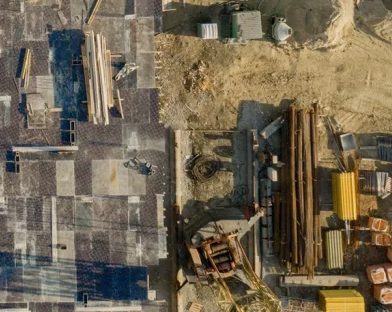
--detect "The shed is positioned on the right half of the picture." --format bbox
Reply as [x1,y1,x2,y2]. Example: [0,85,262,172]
[228,10,261,39]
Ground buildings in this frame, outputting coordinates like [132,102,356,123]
[228,10,261,39]
[0,0,170,312]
